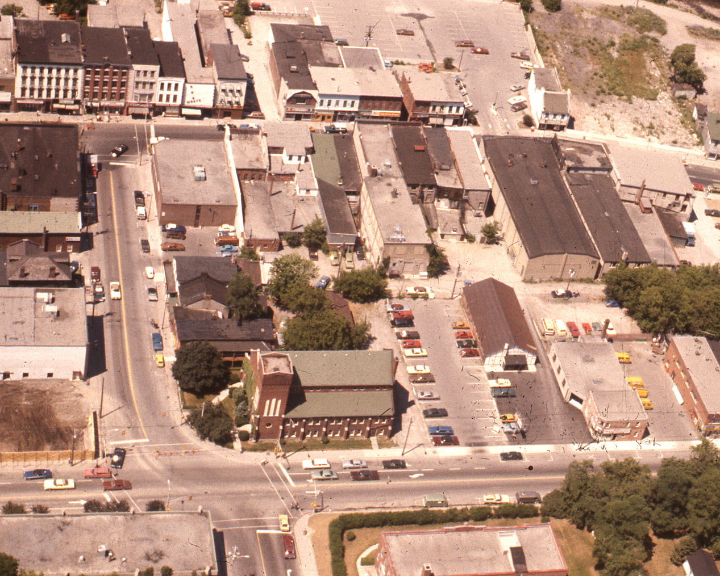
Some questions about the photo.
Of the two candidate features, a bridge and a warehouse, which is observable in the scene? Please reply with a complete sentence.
The one in the frame is a warehouse.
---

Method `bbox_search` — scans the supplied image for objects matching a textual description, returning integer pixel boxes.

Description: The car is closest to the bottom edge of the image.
[282,536,295,559]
